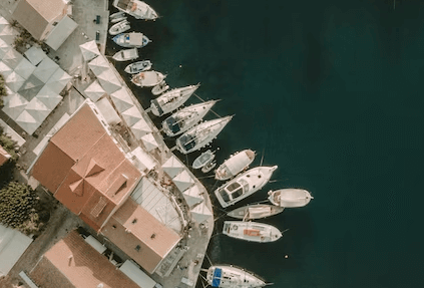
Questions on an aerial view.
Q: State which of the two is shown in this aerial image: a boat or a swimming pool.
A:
boat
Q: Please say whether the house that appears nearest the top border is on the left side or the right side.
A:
left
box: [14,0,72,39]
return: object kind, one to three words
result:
house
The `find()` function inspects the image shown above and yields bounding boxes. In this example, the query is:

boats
[200,150,260,195]
[192,147,217,166]
[111,13,131,21]
[199,257,270,288]
[237,186,314,208]
[144,84,202,115]
[110,19,133,34]
[214,201,285,220]
[152,81,172,94]
[210,164,282,208]
[110,48,140,62]
[167,112,238,159]
[117,59,155,72]
[128,68,167,88]
[202,159,217,171]
[209,217,282,241]
[158,99,220,136]
[111,31,150,49]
